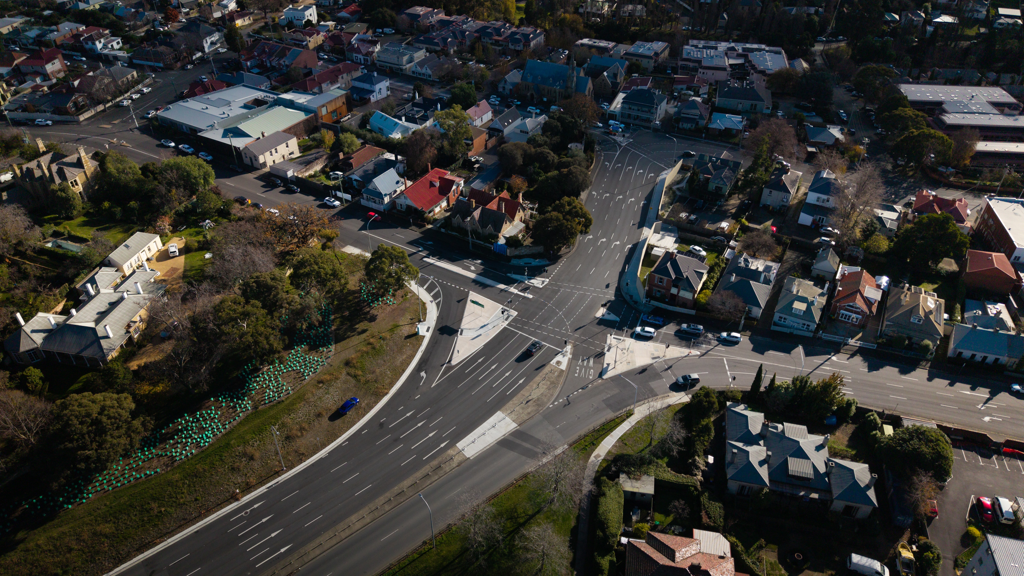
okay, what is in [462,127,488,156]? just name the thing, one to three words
building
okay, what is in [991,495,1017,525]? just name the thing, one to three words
vehicle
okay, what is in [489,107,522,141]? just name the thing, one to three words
house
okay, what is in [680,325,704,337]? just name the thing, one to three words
vehicle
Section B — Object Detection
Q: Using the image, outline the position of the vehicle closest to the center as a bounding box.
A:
[525,342,545,356]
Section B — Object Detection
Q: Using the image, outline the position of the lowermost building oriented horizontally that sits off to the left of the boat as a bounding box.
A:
[624,530,735,576]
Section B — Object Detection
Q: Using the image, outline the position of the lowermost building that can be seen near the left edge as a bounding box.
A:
[6,261,175,371]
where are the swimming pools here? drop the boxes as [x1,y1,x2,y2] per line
[43,236,84,252]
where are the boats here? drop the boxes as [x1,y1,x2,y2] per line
[896,540,917,576]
